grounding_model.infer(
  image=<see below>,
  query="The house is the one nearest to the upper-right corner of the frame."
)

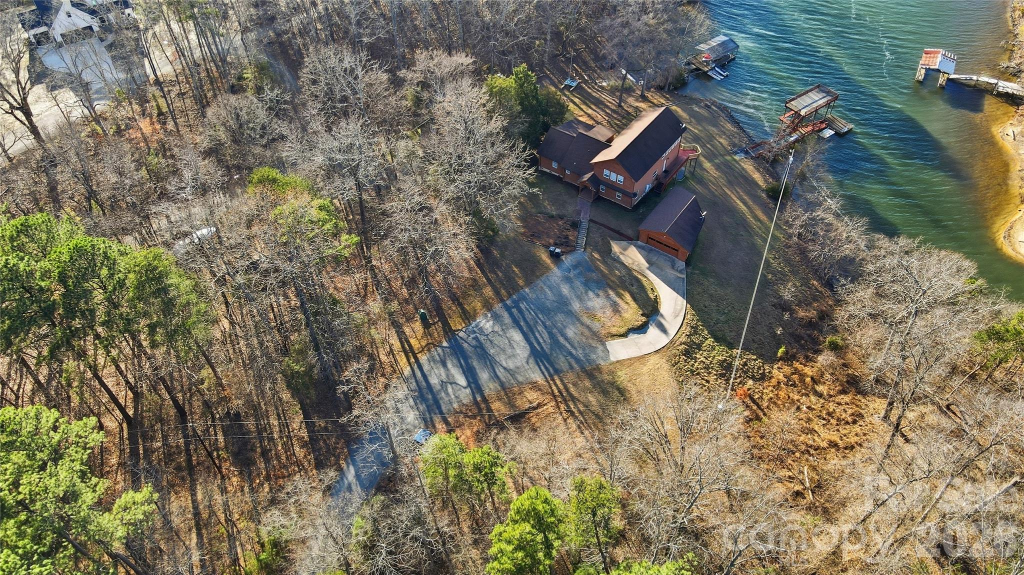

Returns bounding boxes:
[915,48,958,87]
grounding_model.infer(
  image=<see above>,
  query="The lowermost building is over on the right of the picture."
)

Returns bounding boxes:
[638,192,721,263]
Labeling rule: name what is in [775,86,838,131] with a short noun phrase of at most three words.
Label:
pier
